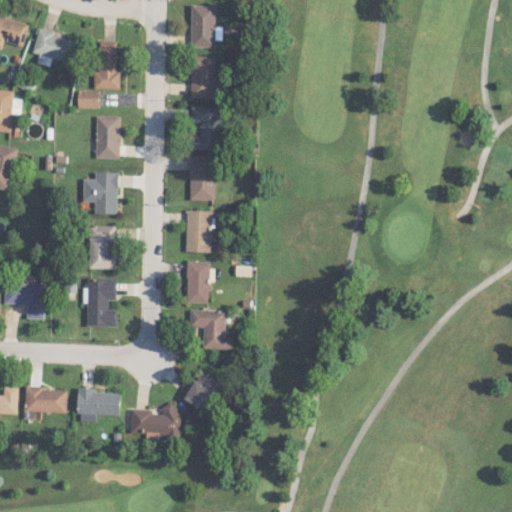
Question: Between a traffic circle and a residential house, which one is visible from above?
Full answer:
Looking from above, you can make out a residential house.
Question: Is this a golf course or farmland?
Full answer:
What you see here is a golf course.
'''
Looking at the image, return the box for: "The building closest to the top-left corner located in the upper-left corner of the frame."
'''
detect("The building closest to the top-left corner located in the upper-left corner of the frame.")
[0,16,30,48]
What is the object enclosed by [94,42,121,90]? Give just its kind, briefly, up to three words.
house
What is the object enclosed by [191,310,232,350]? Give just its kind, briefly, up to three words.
house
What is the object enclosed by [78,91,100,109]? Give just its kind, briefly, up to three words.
building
